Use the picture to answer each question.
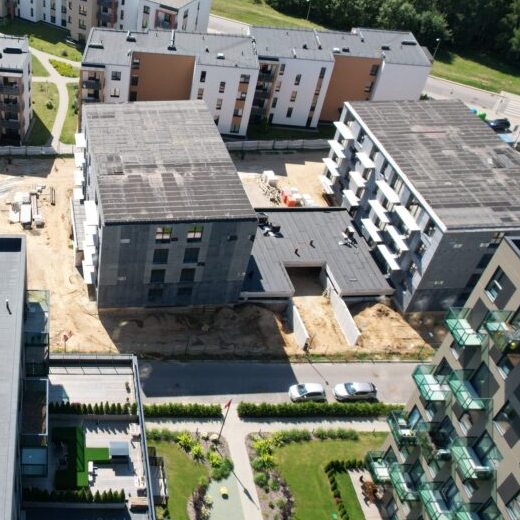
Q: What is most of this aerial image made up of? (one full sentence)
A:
Most of the picture is covered by buildings.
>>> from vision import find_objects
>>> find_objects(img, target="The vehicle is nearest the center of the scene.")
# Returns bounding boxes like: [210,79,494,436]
[288,382,329,402]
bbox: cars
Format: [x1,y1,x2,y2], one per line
[288,382,329,402]
[334,381,380,402]
[484,116,515,129]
